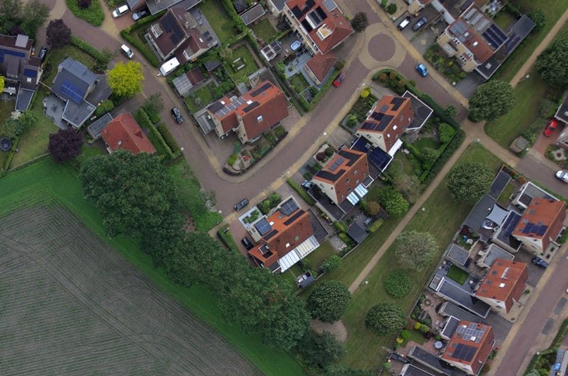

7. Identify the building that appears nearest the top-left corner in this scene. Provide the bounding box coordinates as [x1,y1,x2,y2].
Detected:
[0,34,42,115]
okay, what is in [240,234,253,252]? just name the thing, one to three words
vehicle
